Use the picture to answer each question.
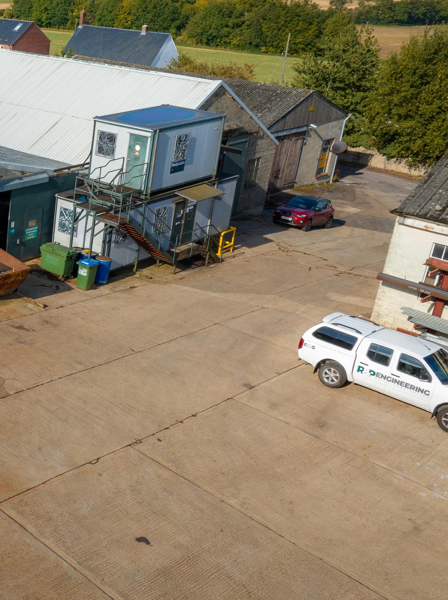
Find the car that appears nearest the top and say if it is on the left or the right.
right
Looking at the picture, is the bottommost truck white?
Yes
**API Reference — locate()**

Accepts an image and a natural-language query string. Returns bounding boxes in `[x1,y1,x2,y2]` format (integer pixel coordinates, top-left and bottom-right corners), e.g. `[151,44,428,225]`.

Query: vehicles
[274,194,338,231]
[292,308,448,435]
